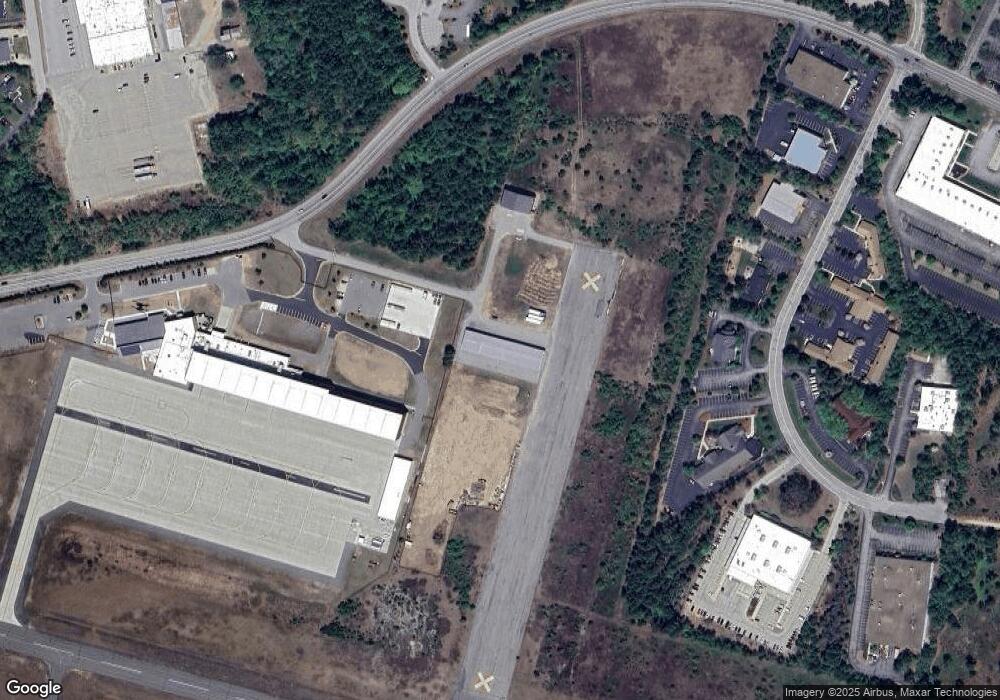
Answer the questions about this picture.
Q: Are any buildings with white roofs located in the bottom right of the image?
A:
Yes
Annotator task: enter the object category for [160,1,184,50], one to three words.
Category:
shed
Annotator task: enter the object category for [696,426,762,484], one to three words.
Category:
building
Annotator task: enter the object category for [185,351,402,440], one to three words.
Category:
hangar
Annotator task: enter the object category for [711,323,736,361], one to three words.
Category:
house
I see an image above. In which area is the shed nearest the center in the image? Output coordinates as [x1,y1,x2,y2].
[461,331,544,372]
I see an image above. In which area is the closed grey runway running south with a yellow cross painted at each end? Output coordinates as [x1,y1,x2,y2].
[452,245,621,700]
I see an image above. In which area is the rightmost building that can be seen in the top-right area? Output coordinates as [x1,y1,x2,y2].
[896,116,1000,243]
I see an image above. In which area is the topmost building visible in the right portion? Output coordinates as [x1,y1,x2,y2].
[785,49,851,107]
